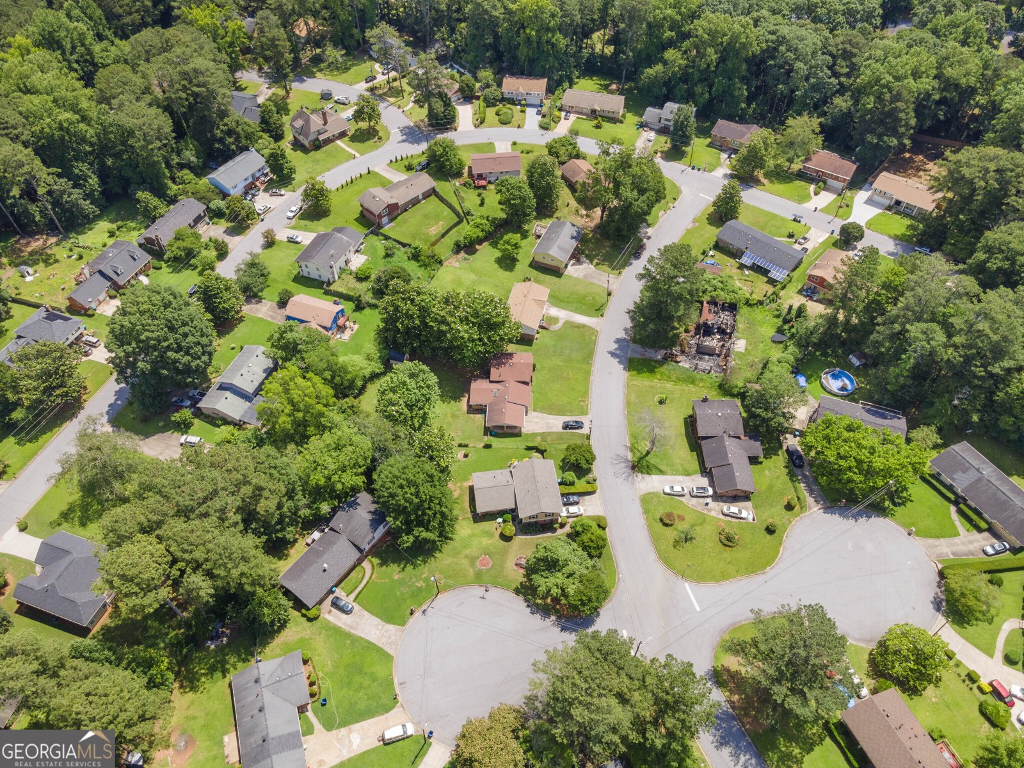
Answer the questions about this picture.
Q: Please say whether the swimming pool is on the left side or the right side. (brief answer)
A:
right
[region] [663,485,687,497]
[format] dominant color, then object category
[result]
white vehicle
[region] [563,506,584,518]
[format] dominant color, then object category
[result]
white vehicle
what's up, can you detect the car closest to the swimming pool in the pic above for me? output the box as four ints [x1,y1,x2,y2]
[786,446,805,468]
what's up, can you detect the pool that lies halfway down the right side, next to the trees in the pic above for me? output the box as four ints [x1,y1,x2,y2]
[823,368,856,395]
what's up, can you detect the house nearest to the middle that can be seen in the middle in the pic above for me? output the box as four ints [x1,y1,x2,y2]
[470,352,534,434]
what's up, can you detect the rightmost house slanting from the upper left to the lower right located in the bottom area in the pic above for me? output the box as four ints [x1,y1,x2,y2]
[928,441,1024,554]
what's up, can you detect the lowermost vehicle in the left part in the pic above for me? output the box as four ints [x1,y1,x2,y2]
[376,720,417,746]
